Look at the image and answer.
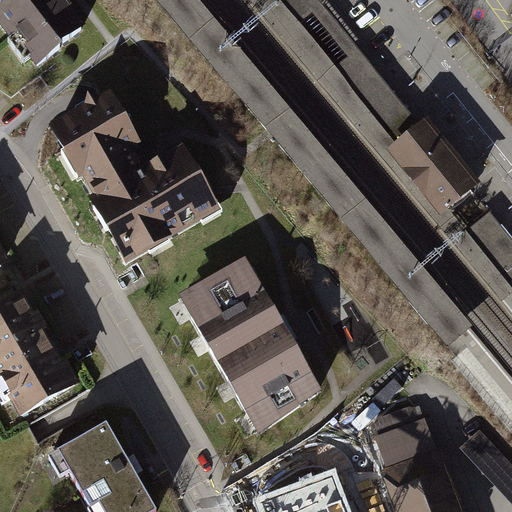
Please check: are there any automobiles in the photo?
Yes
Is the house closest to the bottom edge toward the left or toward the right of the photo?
right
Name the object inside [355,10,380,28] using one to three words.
car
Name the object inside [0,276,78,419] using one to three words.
house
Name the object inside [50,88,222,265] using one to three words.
house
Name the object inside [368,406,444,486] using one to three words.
building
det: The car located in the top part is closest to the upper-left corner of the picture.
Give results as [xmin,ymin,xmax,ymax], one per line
[1,106,22,123]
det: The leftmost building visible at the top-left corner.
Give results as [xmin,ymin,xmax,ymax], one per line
[0,0,82,70]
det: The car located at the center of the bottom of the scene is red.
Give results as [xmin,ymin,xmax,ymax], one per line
[198,452,212,470]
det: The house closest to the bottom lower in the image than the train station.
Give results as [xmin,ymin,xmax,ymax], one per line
[388,476,452,512]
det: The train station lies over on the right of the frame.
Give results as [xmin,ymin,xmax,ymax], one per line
[156,0,512,430]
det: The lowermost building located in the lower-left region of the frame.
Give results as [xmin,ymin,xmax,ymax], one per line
[48,420,156,512]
